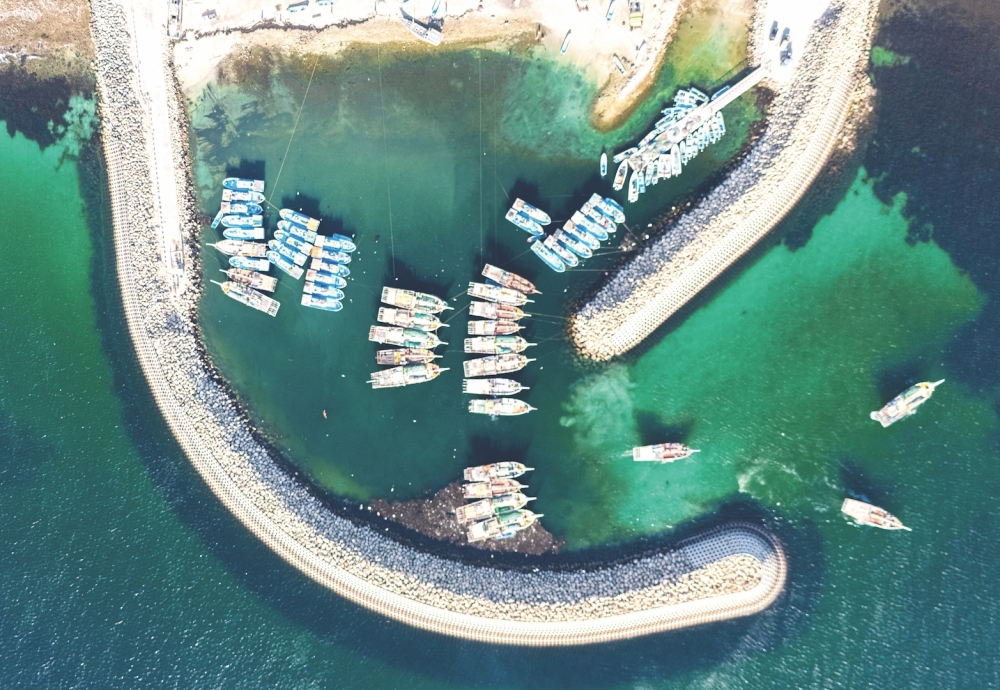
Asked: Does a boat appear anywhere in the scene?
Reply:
Yes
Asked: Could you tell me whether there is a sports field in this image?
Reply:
No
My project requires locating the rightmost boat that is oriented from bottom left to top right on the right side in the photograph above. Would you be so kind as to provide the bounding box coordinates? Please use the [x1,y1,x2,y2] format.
[878,381,944,426]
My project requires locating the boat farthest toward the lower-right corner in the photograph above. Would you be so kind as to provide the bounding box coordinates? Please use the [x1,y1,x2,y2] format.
[840,500,912,530]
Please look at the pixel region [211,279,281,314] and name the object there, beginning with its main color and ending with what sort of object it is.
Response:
white boat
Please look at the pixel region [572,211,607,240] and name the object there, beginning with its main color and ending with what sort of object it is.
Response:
white boat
